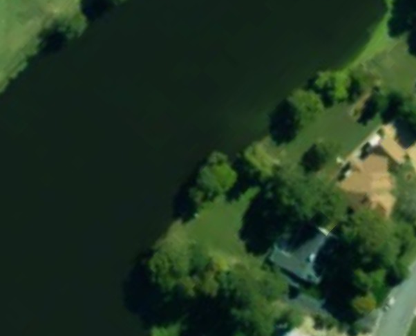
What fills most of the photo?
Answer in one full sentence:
For the most part, this view shows water.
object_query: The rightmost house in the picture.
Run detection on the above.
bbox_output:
[335,121,413,219]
